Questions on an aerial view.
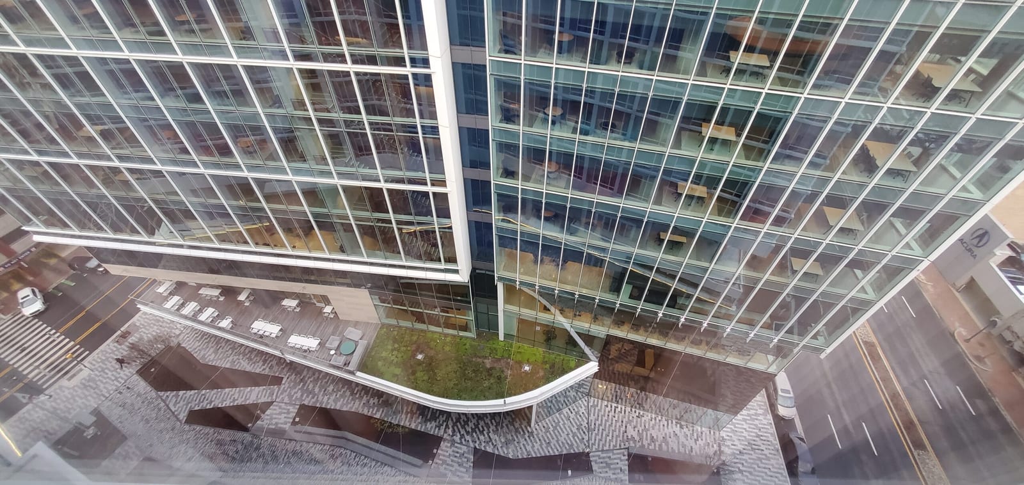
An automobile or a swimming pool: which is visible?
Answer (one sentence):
The one in the frame is an automobile.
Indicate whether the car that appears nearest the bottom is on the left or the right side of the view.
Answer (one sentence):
The car that appears nearest the bottom is on the right side of the image.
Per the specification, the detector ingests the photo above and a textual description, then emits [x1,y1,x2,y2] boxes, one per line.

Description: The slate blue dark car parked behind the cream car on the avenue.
[785,439,822,485]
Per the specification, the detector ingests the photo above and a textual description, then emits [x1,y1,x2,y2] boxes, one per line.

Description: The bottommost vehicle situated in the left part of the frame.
[16,287,45,319]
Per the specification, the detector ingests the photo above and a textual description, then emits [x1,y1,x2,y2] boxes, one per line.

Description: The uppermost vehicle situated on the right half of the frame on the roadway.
[767,373,798,420]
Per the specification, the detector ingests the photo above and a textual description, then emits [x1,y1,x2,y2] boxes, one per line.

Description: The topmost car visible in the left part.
[74,256,104,281]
